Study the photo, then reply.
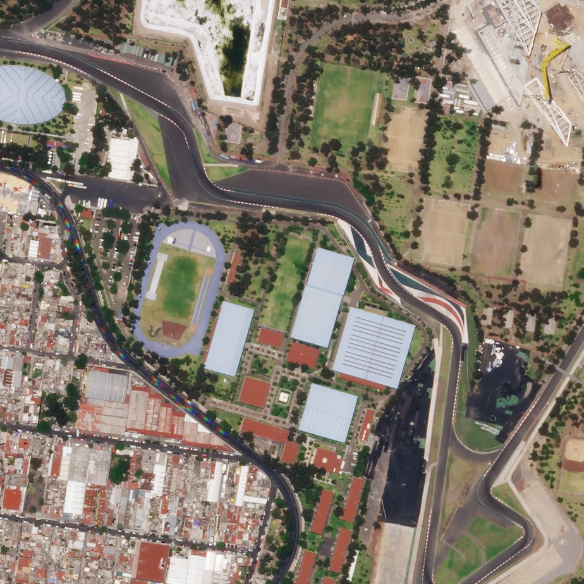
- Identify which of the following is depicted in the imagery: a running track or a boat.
running track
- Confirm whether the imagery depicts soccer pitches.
Yes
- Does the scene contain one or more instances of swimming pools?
No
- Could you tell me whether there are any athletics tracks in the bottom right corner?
No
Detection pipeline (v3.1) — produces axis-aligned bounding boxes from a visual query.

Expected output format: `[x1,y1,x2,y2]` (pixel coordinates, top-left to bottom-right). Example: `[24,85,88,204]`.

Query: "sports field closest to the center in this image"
[259,233,312,332]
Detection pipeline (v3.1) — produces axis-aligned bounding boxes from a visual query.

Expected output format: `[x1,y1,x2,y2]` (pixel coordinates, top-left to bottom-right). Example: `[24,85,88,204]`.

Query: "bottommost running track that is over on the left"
[134,220,225,359]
